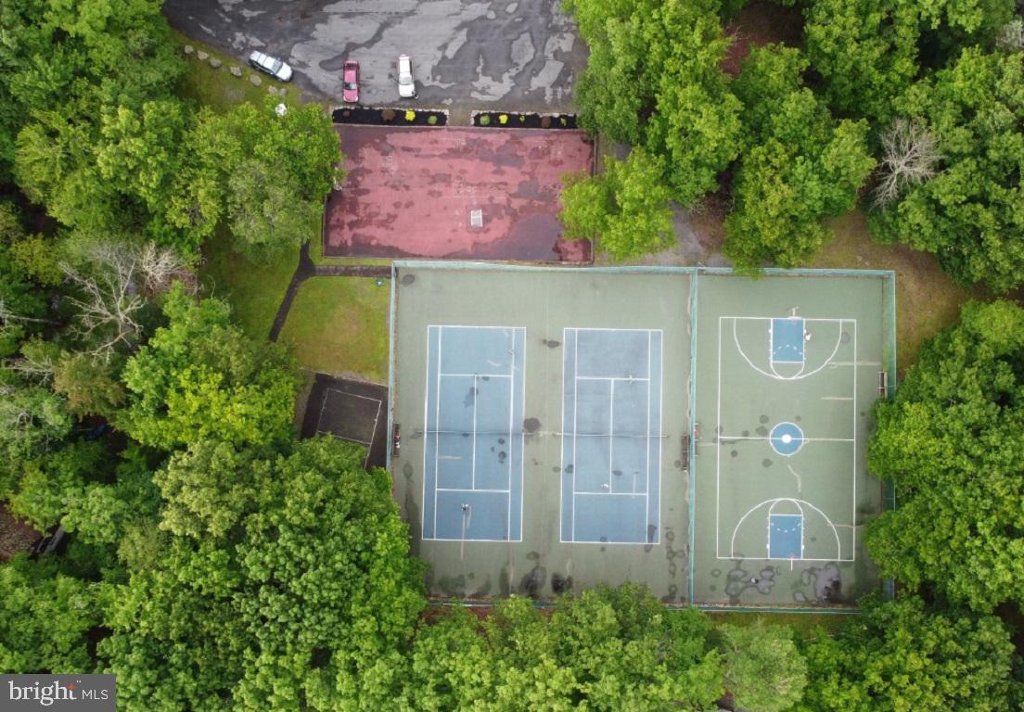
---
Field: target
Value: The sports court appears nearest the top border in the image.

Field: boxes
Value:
[322,123,598,262]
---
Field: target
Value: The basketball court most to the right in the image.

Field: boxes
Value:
[688,275,882,608]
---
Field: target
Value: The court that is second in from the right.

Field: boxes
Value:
[560,328,663,544]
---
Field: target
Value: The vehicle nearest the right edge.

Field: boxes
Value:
[397,52,417,96]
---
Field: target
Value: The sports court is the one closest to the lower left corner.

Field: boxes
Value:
[297,372,392,474]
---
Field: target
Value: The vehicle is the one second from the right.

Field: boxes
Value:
[342,59,360,101]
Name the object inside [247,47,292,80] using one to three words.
car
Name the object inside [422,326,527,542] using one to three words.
tennis court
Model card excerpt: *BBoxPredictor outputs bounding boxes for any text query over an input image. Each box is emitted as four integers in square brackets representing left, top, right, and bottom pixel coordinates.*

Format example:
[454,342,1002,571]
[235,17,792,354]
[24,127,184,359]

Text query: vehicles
[342,59,360,101]
[397,52,417,96]
[247,47,292,80]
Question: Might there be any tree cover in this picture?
Yes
